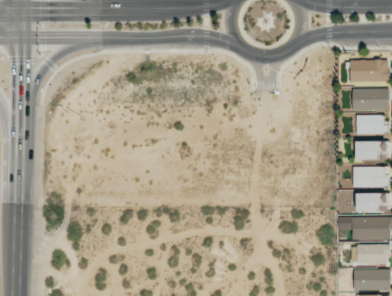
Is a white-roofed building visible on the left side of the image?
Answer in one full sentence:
No, there is no white-roofed building on the left side of the image.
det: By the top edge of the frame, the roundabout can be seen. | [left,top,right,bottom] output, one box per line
[226,0,308,63]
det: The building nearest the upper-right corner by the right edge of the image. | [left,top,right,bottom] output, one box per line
[346,58,390,81]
